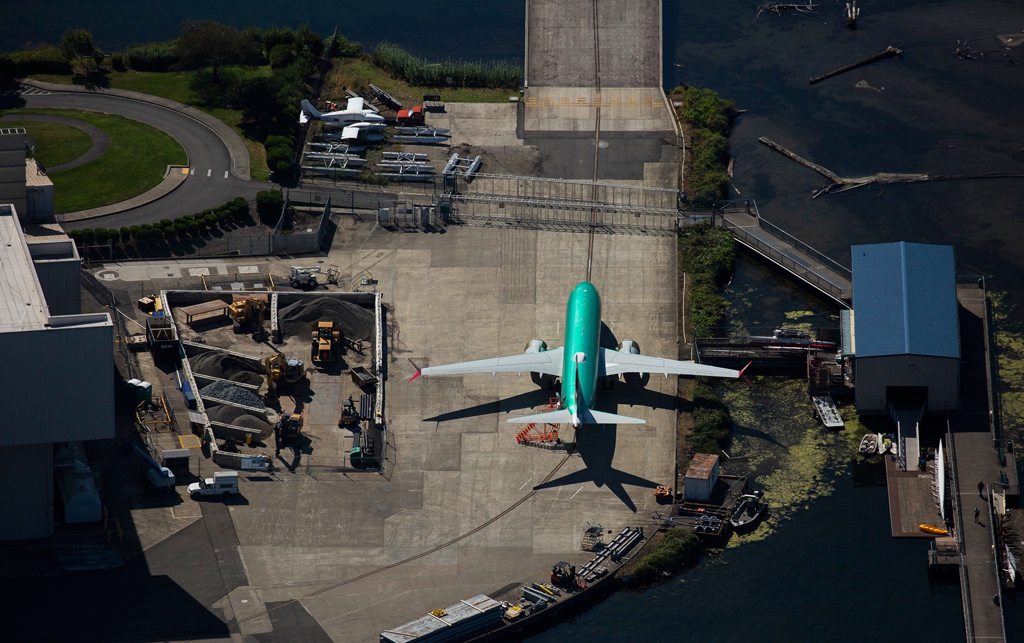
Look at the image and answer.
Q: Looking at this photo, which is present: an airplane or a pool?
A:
airplane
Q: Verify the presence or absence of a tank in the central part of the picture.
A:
No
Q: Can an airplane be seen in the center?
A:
Yes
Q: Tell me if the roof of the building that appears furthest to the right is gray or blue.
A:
blue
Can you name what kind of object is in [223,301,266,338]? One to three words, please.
work vehicle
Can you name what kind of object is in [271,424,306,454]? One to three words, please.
work vehicle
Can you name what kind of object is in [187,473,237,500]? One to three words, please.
truck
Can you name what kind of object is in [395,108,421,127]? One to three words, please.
vehicle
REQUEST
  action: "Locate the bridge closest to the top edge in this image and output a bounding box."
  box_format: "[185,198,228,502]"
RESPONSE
[524,0,663,89]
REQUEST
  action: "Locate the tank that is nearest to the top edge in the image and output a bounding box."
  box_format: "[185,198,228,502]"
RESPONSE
[55,440,101,520]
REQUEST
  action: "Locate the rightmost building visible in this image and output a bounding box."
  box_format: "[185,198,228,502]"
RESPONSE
[838,240,963,428]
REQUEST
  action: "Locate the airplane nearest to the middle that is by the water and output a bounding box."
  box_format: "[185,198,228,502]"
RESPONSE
[410,282,751,429]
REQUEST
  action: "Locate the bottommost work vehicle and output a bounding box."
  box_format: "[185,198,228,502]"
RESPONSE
[544,558,580,591]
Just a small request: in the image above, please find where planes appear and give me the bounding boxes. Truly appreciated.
[410,282,751,429]
[300,102,389,144]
